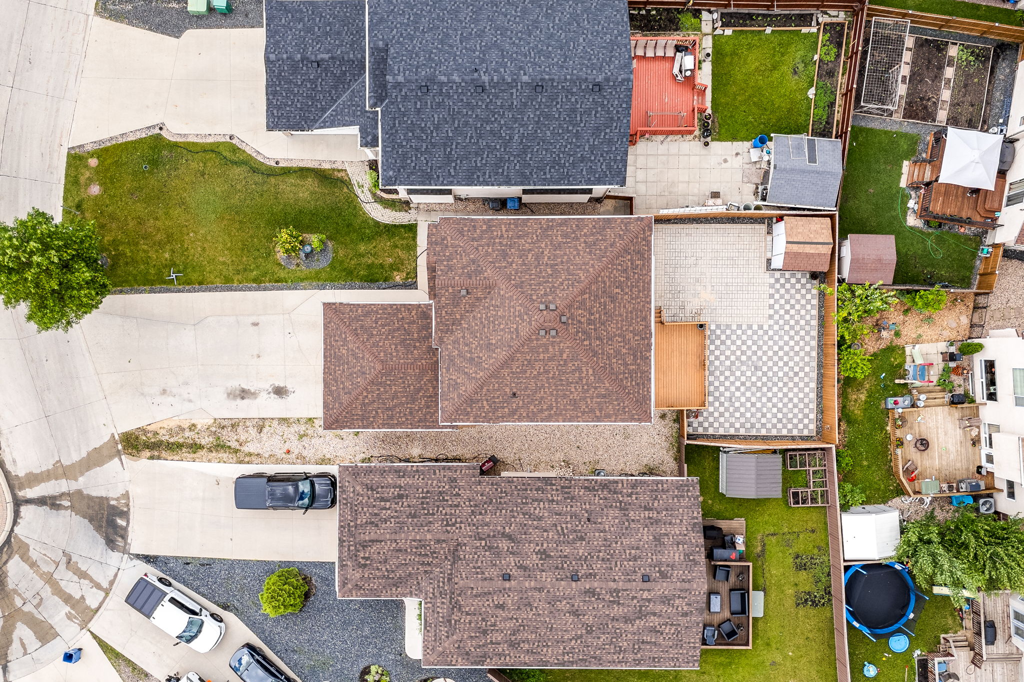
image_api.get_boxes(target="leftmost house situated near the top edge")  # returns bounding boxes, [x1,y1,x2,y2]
[257,0,634,207]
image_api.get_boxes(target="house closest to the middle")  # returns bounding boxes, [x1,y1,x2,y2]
[322,215,655,431]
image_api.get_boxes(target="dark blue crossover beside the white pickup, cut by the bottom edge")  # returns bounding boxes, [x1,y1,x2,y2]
[233,642,306,682]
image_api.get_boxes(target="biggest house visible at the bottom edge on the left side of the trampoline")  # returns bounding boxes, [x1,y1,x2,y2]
[337,463,706,669]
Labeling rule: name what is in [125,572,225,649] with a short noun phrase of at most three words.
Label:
truck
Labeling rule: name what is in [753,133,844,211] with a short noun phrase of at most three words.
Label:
shed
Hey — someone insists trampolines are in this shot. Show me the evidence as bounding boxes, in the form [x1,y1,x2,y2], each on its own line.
[843,561,929,641]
